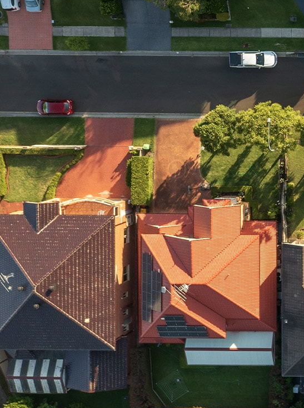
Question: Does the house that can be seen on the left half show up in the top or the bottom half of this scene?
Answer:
bottom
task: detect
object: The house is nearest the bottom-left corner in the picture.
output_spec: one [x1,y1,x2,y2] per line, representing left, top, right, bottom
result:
[0,196,136,394]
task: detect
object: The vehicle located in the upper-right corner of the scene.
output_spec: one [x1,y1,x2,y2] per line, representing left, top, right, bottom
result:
[229,49,279,71]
